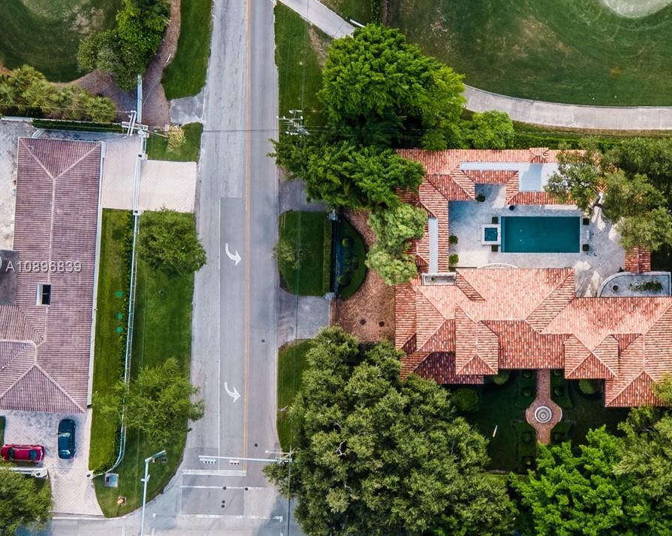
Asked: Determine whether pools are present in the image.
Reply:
Yes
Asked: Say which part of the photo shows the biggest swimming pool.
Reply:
right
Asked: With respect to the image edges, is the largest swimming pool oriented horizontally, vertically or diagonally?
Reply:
horizontally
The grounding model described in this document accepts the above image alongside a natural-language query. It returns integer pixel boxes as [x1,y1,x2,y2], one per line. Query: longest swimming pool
[500,214,580,253]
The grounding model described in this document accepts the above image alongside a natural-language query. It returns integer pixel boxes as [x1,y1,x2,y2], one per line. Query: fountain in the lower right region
[534,405,552,424]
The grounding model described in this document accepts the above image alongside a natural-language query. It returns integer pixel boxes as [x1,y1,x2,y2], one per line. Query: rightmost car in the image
[52,419,74,459]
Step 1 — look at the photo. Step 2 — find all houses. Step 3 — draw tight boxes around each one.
[395,148,672,408]
[0,138,110,412]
